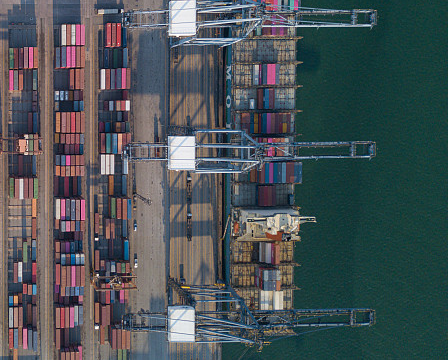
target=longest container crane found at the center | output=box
[124,113,380,174]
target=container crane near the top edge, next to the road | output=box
[124,0,381,59]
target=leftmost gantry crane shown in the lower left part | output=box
[92,261,142,291]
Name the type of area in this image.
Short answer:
port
